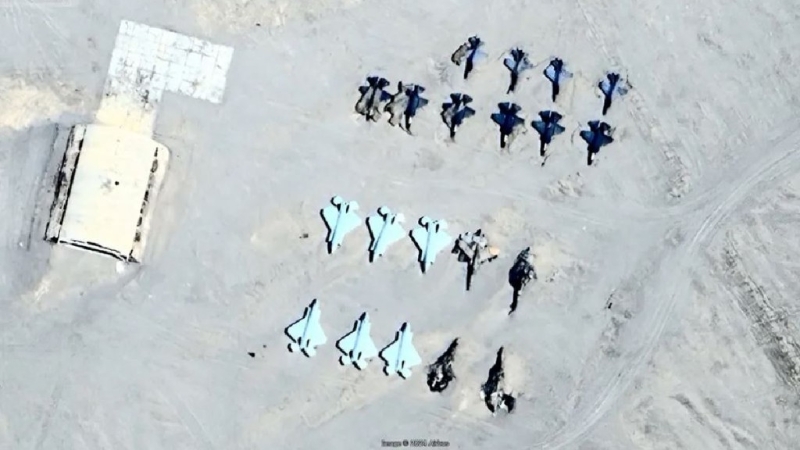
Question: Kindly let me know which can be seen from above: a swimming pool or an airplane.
airplane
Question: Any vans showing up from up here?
No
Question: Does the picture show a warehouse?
No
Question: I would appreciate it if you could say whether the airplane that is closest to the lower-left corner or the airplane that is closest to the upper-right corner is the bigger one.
the airplane that is closest to the lower-left corner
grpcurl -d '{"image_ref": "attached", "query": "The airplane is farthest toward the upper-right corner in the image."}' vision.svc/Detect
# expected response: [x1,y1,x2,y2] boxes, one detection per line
[598,72,627,114]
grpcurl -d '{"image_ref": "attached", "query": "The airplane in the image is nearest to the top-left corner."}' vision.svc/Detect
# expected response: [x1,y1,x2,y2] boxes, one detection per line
[355,74,391,122]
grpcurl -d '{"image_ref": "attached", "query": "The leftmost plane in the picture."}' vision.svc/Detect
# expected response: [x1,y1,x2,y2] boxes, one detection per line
[288,301,327,358]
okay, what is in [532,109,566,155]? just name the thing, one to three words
airplane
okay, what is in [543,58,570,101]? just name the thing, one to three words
airplane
